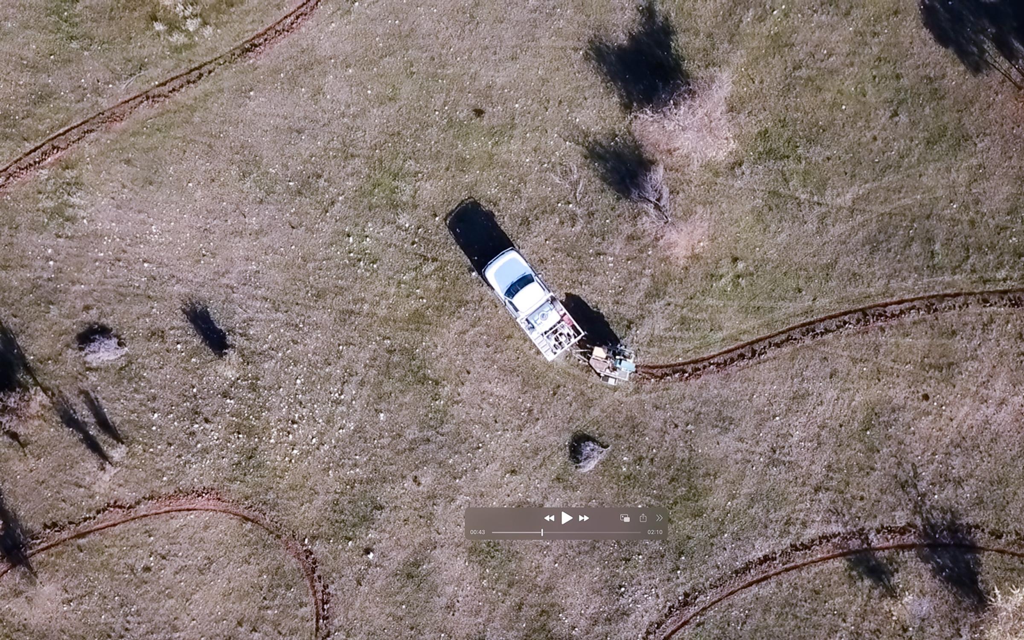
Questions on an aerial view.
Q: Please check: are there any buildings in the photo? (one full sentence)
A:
No, no building is visible in the view.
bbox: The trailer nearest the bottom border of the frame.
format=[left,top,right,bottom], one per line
[570,340,638,386]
